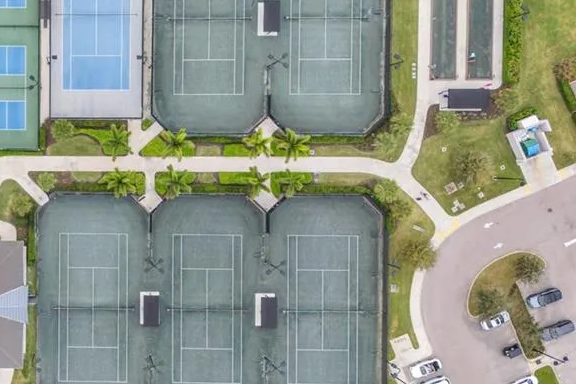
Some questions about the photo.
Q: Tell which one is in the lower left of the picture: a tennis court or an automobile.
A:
tennis court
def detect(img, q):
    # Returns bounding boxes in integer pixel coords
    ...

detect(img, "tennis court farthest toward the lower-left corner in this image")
[37,194,151,384]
